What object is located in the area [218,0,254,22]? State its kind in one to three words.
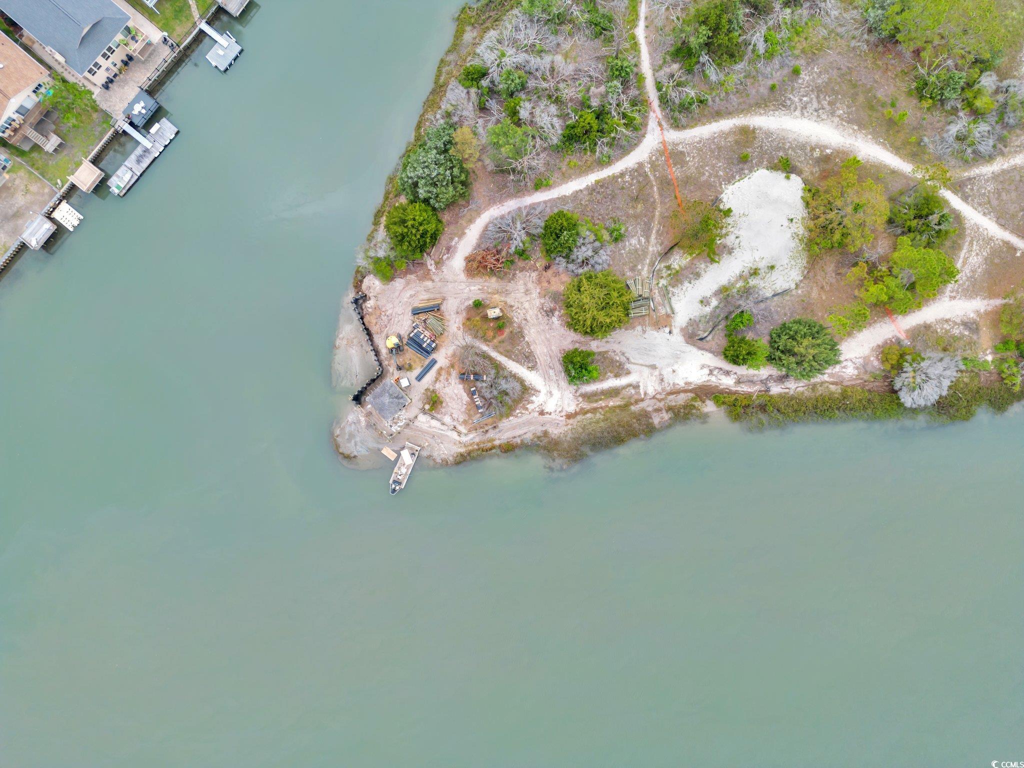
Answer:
pier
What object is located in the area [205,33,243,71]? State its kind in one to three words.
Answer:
pier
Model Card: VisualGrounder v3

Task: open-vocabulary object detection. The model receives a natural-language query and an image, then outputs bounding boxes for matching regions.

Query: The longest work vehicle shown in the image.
[385,330,405,371]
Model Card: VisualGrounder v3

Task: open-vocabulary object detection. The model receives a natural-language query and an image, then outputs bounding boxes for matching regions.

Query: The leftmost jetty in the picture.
[16,215,64,250]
